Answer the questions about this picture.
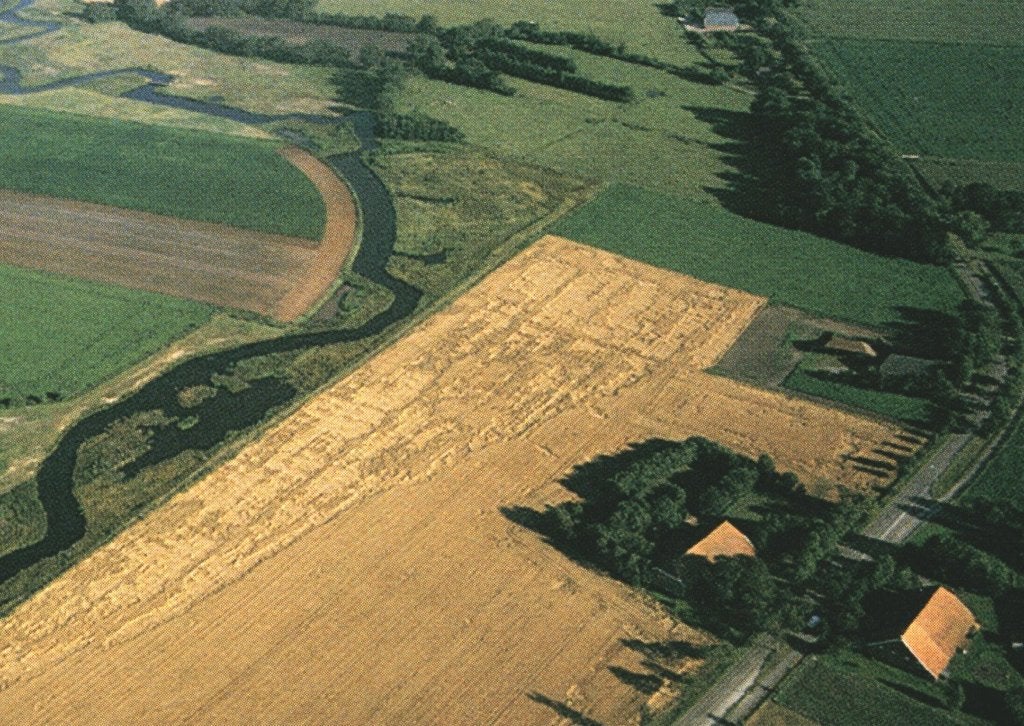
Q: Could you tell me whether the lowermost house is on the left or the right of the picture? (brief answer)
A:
right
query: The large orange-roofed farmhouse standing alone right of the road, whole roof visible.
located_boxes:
[857,583,977,679]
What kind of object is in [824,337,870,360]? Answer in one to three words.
house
